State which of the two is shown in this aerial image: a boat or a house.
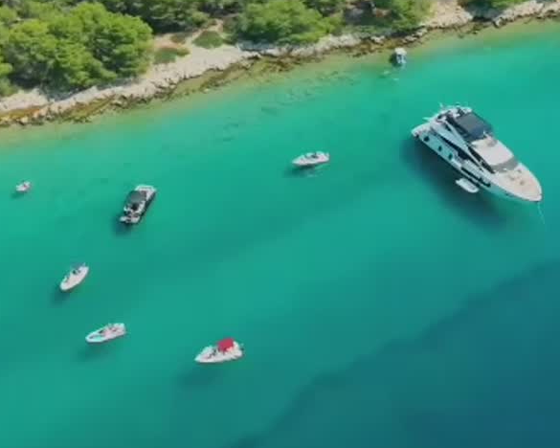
boat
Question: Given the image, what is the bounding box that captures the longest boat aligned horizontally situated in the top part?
[292,156,331,169]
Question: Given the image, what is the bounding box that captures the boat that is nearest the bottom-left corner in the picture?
[86,326,129,345]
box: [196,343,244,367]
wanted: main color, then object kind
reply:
white boat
